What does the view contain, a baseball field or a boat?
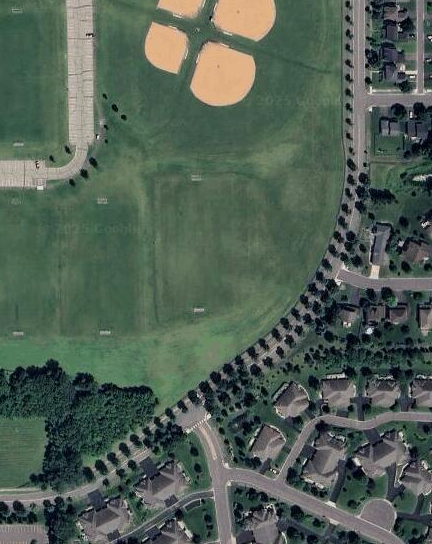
baseball field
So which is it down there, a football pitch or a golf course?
football pitch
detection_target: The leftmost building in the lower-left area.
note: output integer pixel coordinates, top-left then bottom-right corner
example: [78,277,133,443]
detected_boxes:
[80,499,131,544]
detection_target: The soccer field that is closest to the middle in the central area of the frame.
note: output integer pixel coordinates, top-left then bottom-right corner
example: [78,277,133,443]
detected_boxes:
[156,181,244,313]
